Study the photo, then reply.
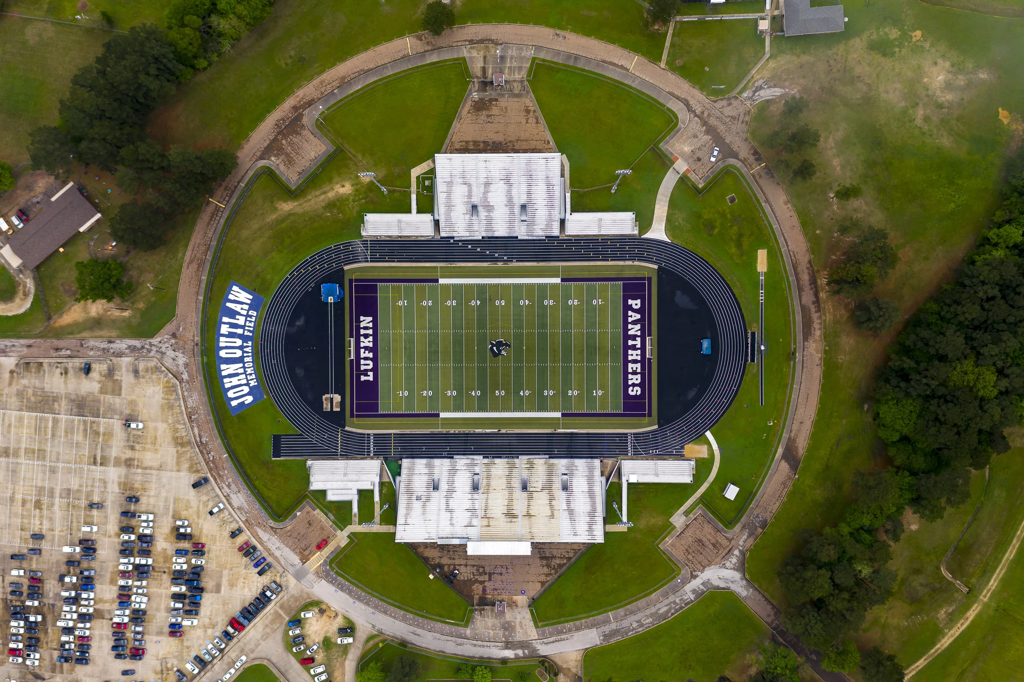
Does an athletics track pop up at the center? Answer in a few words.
Yes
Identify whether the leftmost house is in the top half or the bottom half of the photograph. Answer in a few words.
top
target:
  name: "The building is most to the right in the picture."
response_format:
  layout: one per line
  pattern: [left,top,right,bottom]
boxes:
[782,0,844,38]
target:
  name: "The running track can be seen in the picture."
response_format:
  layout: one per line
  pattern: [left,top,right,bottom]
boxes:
[259,236,746,459]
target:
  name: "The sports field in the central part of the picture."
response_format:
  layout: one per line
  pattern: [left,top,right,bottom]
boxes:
[343,262,657,433]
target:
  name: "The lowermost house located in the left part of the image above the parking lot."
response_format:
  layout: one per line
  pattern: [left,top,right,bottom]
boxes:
[0,181,105,270]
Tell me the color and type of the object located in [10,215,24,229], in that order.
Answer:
white vehicle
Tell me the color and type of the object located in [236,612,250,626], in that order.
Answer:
blue vehicle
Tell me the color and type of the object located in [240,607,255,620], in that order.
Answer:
black vehicle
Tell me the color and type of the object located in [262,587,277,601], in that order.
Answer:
white vehicle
